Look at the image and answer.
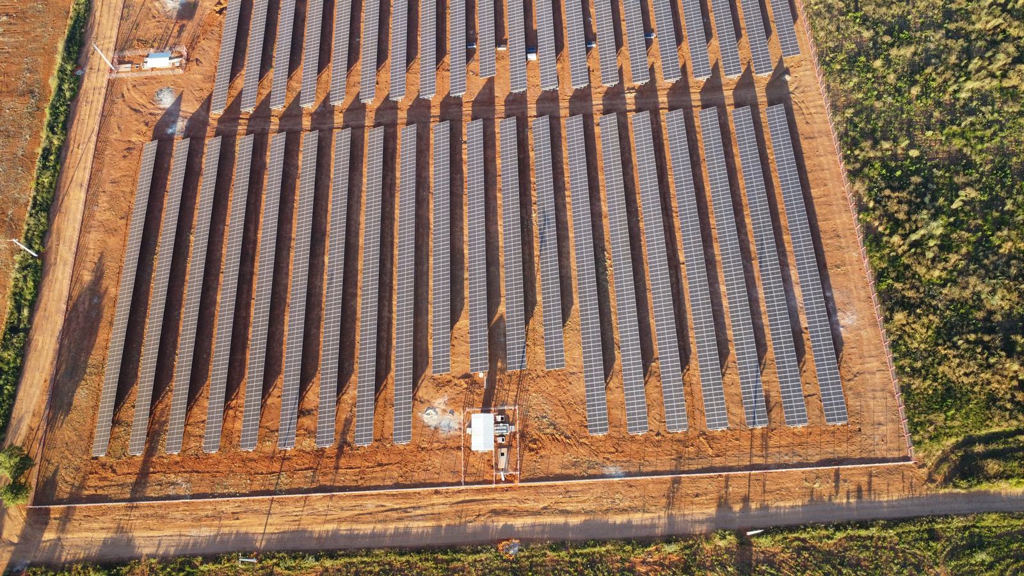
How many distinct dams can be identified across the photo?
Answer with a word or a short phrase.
0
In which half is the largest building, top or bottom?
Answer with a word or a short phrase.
bottom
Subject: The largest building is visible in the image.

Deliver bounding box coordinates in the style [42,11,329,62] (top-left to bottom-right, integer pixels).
[472,414,494,452]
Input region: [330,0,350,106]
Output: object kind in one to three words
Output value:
solar array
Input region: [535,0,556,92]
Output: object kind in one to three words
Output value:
solar array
